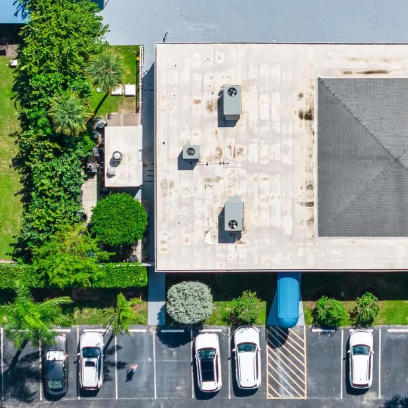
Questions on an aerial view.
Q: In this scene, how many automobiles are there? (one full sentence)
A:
My tally gives 5 automobiles in this view.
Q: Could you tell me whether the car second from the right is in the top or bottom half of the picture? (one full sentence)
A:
Seen from above, the car second from the right lies in the bottom half of the view.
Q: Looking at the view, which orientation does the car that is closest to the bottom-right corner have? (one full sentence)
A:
In this picture, the car that is closest to the bottom-right corner lies vertically.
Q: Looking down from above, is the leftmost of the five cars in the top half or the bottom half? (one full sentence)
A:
You can find the leftmost of the five cars in the bottom half.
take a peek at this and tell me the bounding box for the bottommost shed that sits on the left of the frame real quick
[104,125,149,187]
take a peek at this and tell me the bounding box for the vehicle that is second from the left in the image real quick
[76,329,105,391]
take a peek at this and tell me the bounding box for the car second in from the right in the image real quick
[233,326,261,389]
